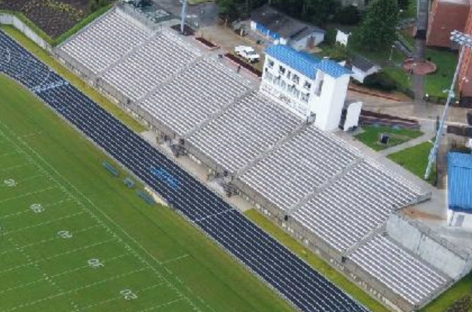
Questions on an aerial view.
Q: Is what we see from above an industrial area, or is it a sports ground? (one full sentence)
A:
This looks like a sports ground.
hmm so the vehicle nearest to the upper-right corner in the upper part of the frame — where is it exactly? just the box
[234,44,261,59]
